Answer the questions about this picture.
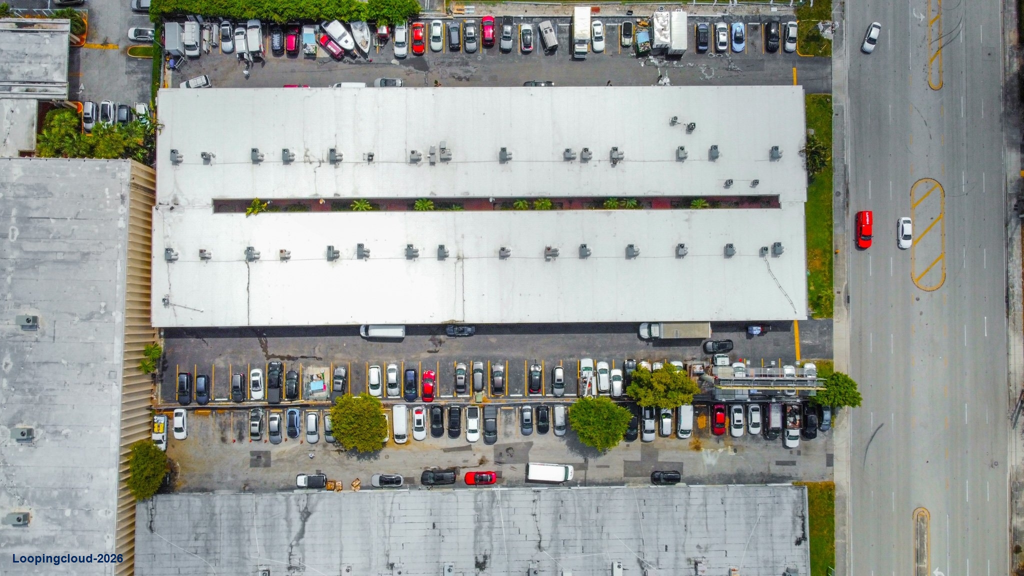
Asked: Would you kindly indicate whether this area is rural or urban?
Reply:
urban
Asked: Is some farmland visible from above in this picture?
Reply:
No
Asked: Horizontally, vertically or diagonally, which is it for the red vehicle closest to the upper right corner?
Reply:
vertically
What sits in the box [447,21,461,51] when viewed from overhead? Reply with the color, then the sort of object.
gray car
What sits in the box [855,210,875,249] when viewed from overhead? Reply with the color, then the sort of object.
red vehicle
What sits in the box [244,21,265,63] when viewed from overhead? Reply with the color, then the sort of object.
white truck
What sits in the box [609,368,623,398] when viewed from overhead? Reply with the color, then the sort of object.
white car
